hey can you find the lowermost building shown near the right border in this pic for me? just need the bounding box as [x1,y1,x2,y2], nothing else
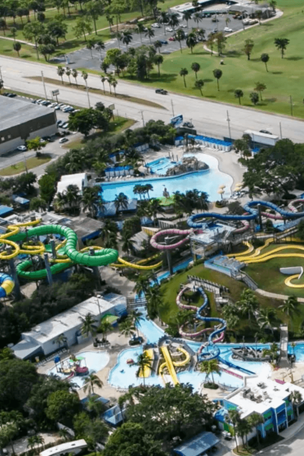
[223,375,304,442]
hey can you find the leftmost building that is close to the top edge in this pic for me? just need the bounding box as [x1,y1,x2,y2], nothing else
[170,1,198,20]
